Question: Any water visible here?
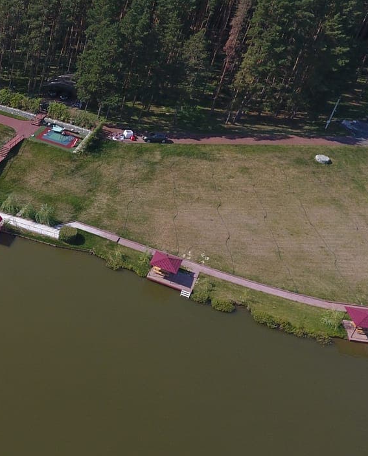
Yes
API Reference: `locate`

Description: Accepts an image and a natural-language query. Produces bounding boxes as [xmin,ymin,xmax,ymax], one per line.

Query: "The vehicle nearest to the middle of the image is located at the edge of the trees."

[143,131,172,144]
